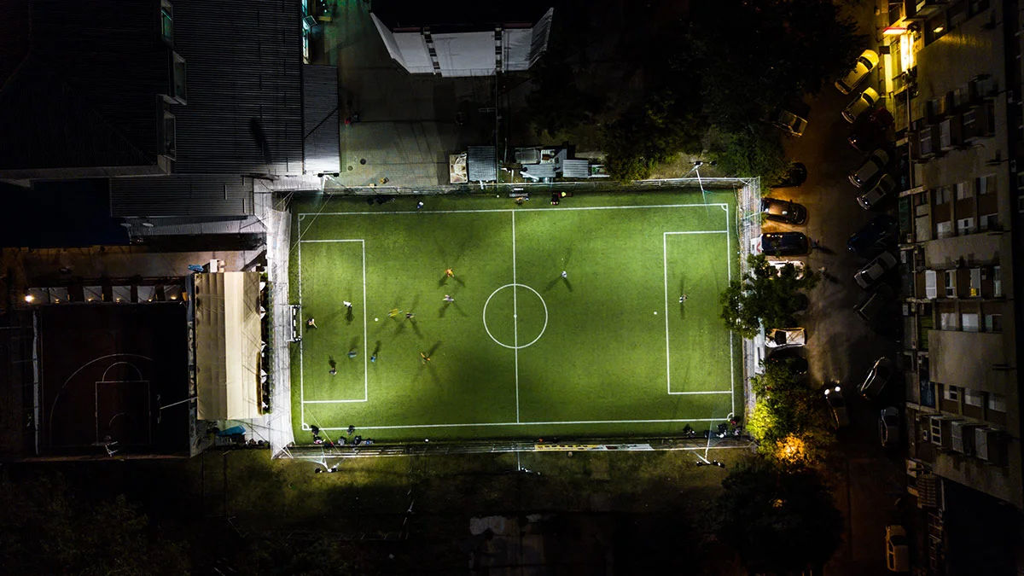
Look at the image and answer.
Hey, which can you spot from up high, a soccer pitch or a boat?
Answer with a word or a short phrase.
soccer pitch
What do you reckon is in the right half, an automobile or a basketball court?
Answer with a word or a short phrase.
automobile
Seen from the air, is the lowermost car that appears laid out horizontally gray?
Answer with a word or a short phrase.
No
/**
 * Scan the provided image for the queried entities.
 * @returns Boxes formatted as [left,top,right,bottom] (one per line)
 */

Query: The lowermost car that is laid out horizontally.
[765,354,809,375]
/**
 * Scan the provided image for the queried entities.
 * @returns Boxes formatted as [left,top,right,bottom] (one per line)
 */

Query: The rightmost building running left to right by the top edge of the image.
[371,0,553,76]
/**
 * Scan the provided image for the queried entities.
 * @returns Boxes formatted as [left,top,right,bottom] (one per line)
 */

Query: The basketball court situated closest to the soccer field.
[39,306,184,455]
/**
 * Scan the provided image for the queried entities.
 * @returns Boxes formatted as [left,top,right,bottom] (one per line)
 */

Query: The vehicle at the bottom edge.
[884,524,910,574]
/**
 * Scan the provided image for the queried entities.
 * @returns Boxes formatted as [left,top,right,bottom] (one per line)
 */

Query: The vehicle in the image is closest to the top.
[836,52,876,92]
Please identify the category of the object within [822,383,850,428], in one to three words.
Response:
car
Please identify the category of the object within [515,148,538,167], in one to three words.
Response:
shed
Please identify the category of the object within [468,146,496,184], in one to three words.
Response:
shed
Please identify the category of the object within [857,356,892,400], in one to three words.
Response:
car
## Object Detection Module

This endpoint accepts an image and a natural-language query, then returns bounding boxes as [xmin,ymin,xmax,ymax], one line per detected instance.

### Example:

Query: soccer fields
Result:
[292,191,742,445]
